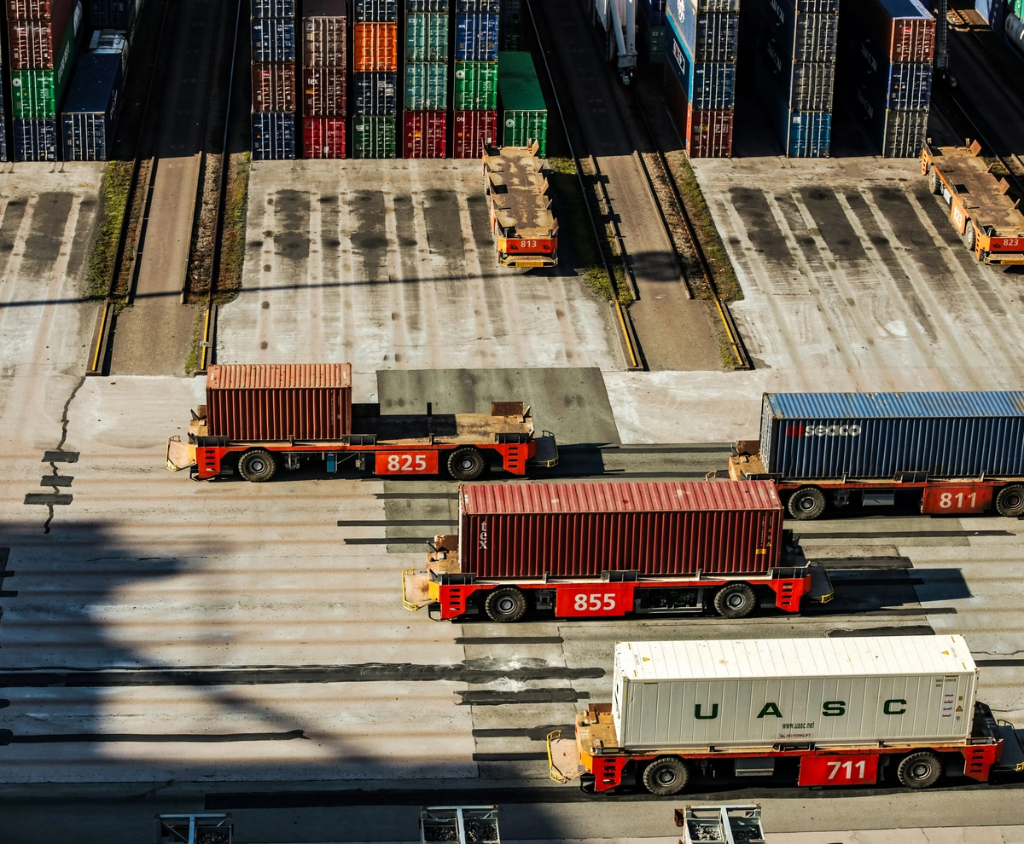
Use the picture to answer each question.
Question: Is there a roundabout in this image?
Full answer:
No, this view has no roundabout in it.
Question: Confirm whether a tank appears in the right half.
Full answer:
No, the scene shows no tank in the right half.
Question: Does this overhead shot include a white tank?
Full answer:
No, I can't see a single white tank in this photo.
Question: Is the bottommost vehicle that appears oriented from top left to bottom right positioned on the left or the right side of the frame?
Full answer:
You can find the bottommost vehicle that appears oriented from top left to bottom right on the right side of the picture.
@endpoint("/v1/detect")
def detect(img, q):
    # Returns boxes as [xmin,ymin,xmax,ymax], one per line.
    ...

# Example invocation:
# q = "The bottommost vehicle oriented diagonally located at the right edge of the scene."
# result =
[923,141,1024,266]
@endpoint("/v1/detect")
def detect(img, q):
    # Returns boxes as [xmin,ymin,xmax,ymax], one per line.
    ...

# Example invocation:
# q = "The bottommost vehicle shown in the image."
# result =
[548,694,1024,794]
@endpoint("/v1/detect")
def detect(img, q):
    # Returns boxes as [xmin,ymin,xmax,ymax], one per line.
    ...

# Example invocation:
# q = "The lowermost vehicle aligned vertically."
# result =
[482,140,558,266]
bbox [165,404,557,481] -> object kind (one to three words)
vehicle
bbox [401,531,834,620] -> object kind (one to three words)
vehicle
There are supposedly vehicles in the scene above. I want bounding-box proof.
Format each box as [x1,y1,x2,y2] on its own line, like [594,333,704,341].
[165,404,557,481]
[923,141,1024,266]
[548,694,1024,794]
[401,531,834,620]
[705,441,1024,517]
[482,140,558,266]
